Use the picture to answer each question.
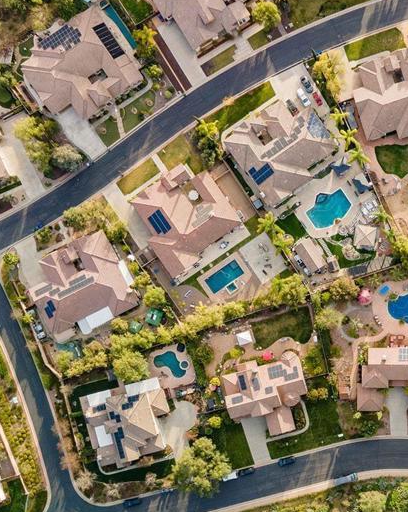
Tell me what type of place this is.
residential area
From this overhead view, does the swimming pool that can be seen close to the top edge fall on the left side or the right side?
left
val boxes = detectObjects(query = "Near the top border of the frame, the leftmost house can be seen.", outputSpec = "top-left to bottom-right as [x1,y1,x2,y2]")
[19,6,145,123]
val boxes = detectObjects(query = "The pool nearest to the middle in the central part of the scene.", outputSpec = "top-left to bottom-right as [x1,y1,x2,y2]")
[204,258,245,294]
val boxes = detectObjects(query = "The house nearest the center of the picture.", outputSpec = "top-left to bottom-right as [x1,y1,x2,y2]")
[129,164,241,278]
